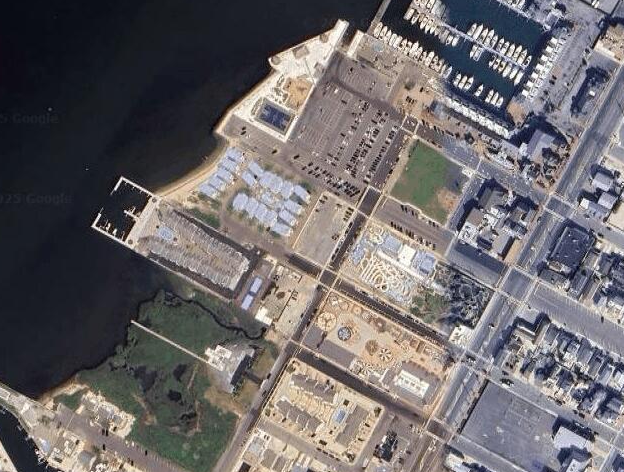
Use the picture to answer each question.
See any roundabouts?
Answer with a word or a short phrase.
No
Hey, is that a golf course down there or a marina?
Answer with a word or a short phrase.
marina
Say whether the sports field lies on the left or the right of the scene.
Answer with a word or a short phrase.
right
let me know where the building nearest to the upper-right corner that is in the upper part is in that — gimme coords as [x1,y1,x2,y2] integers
[603,22,624,55]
